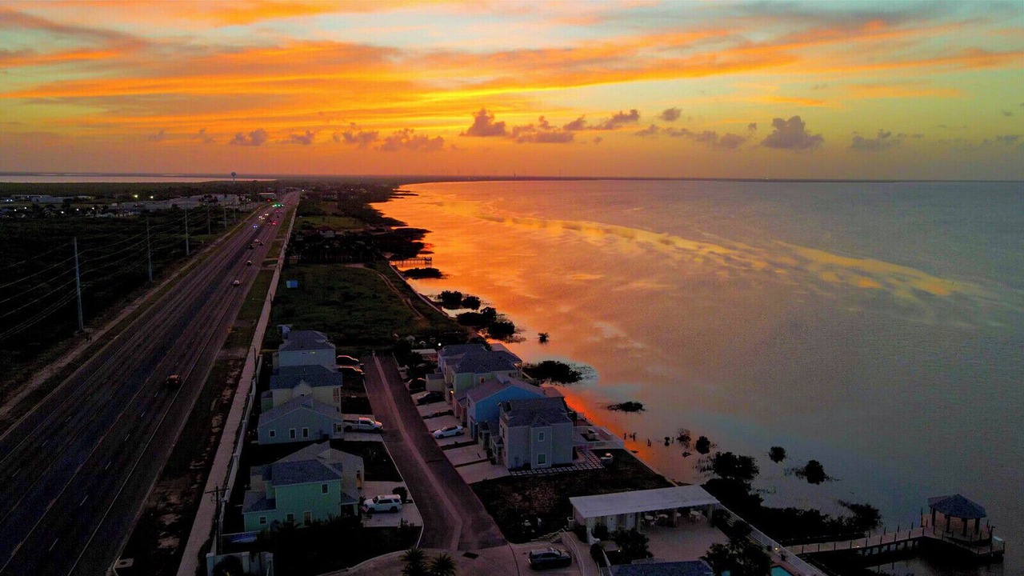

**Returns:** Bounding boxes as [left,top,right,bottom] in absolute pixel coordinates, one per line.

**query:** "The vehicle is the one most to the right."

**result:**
[526,548,571,571]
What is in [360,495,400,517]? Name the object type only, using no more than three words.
car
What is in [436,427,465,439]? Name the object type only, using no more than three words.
vehicle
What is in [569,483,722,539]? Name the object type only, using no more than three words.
building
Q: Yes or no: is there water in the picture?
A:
Yes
